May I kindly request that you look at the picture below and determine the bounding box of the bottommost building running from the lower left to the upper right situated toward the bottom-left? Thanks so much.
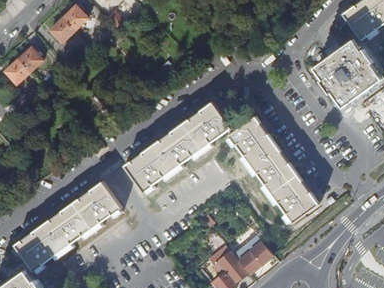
[14,180,126,276]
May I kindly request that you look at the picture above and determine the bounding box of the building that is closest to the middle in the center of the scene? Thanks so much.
[124,100,233,196]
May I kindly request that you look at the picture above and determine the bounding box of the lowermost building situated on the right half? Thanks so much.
[211,235,280,288]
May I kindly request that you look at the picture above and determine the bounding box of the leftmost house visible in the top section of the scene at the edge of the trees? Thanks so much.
[4,46,44,86]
